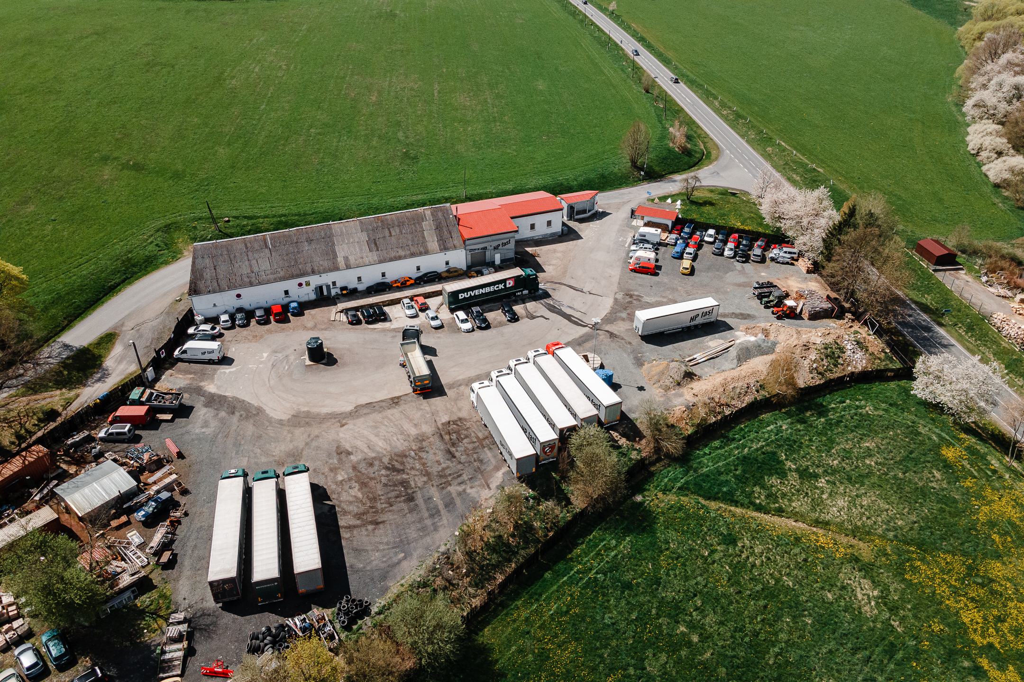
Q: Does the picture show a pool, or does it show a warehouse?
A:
warehouse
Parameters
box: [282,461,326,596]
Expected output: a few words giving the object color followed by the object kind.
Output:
white truck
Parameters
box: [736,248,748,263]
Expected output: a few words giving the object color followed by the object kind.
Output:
black vehicle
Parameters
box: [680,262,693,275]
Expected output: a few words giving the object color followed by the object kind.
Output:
yellow vehicle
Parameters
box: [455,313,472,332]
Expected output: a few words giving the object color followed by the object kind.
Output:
white car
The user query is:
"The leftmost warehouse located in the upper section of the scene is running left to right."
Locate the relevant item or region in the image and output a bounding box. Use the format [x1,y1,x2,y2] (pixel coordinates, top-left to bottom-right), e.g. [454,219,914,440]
[187,204,464,316]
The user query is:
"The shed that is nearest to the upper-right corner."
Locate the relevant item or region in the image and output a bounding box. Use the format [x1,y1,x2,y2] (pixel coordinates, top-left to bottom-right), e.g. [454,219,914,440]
[914,237,965,269]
